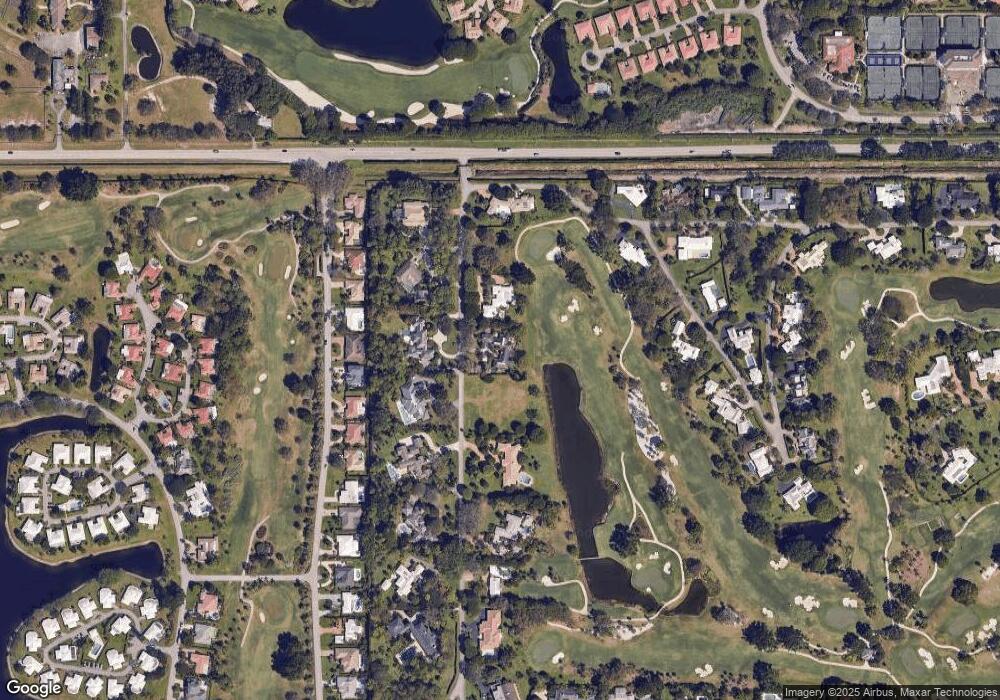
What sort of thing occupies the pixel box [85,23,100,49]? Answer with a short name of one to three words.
building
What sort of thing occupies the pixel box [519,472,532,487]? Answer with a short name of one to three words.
swimming pool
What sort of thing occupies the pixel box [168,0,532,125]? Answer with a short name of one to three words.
golf course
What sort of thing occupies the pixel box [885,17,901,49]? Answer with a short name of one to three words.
tennis court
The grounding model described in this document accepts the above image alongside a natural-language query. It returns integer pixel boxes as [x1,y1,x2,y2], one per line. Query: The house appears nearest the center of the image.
[476,328,520,369]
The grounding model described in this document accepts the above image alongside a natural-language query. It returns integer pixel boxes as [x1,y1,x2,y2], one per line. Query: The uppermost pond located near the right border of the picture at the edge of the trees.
[931,277,1000,311]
